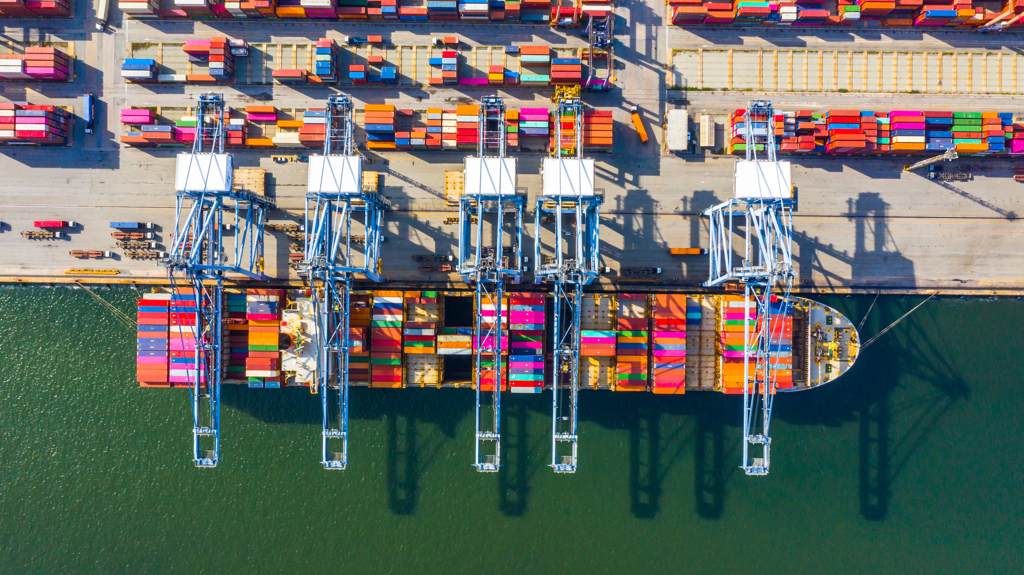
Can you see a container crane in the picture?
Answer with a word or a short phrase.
Yes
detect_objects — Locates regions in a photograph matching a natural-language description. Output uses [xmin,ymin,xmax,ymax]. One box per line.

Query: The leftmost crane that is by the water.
[162,85,280,471]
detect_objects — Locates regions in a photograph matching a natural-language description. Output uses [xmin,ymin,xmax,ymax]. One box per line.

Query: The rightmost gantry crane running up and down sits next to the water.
[695,91,799,478]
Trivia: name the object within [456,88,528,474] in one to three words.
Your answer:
container crane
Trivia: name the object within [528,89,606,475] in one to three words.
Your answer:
container crane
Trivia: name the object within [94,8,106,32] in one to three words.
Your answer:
vehicle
